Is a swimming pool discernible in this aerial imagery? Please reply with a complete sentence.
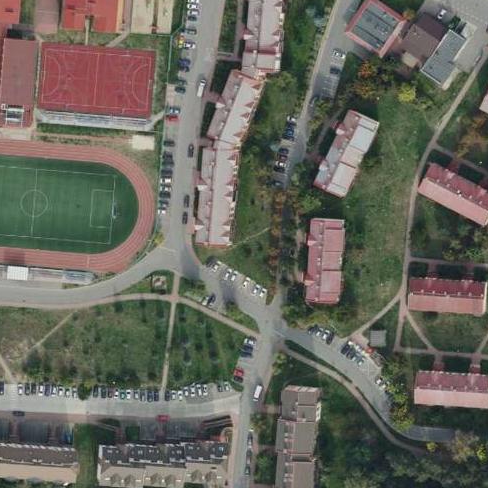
No, there appears to be no swimming pool in this shot.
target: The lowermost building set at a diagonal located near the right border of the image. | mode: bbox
[418,163,488,226]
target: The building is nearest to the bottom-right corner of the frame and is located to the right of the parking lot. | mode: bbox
[414,370,488,410]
